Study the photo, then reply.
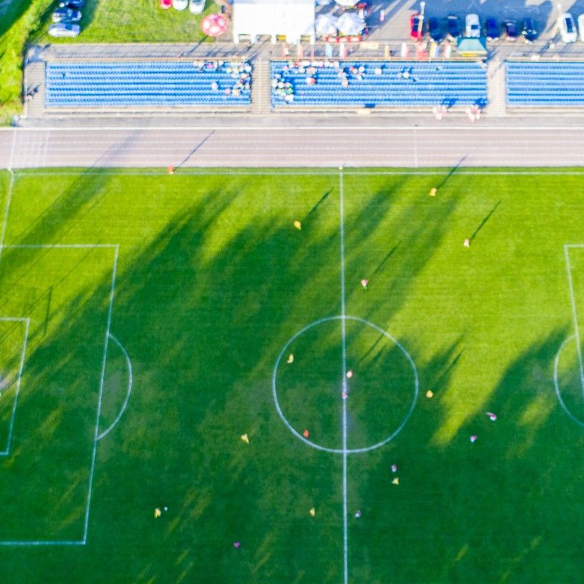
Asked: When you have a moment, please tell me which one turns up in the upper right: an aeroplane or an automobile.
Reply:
automobile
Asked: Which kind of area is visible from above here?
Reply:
sports ground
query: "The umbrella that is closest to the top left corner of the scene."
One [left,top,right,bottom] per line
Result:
[203,16,226,38]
